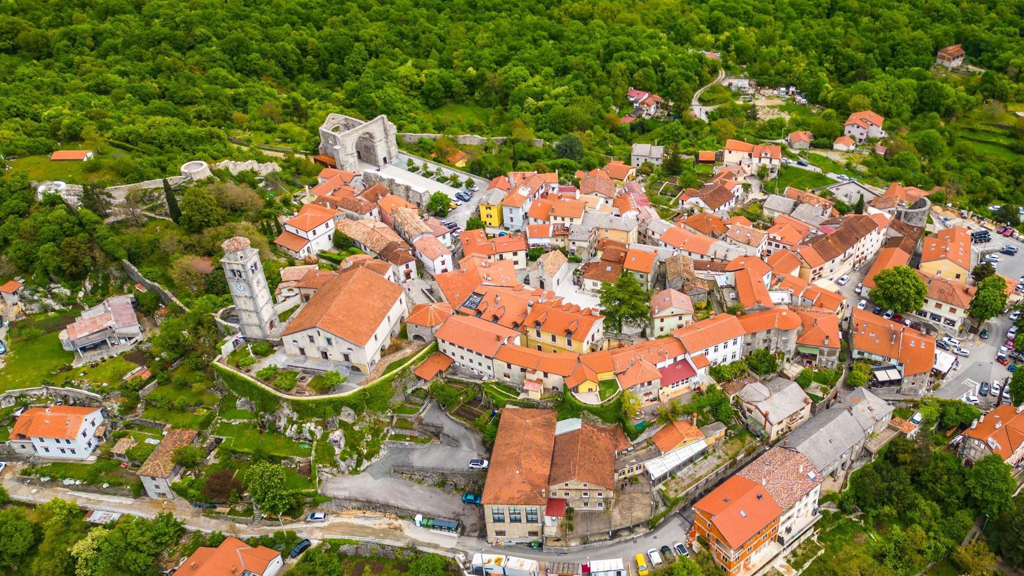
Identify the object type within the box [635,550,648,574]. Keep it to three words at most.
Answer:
vehicle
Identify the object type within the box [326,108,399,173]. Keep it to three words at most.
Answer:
building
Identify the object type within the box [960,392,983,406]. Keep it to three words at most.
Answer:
car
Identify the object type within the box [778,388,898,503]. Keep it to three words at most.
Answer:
house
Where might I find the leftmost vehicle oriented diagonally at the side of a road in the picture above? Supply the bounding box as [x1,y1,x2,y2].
[288,539,309,557]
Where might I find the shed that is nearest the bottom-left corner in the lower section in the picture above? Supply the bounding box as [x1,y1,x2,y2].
[87,508,122,532]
